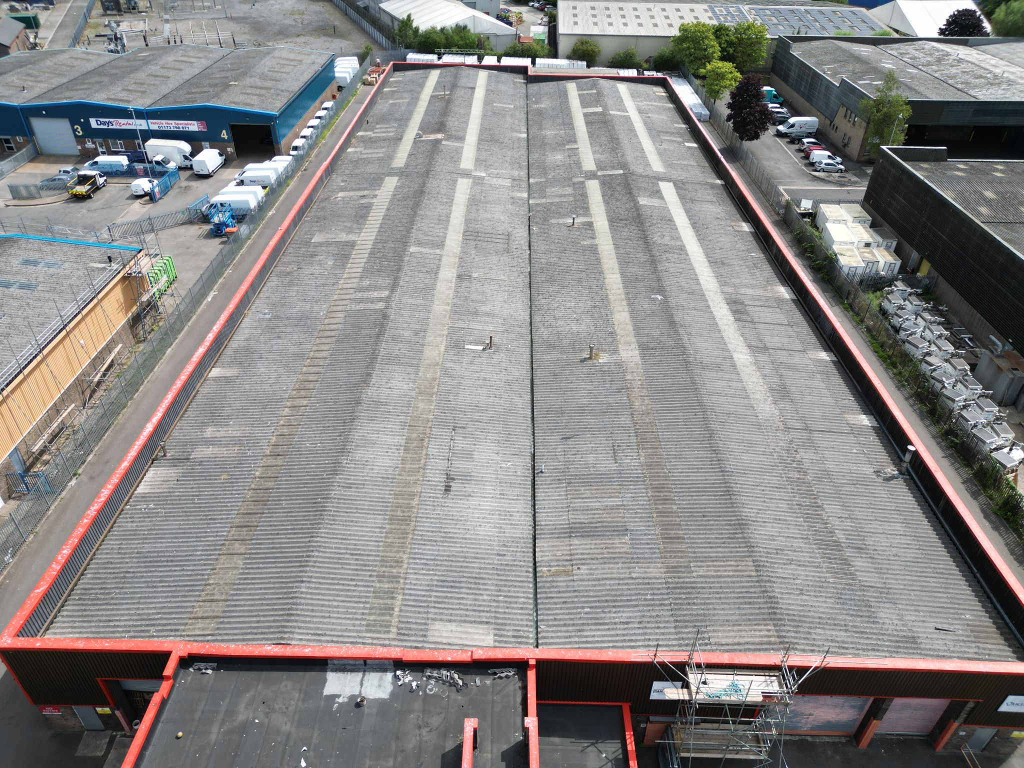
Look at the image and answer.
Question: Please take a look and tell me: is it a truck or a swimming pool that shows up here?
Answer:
truck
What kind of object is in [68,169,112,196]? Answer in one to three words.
truck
